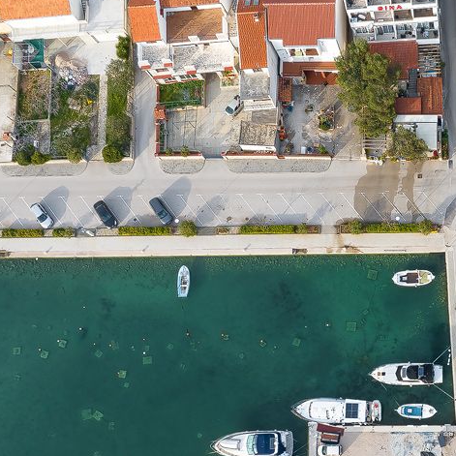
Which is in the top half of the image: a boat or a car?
car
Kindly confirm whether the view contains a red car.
No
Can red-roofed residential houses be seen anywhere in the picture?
Yes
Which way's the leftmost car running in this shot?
on a diagonal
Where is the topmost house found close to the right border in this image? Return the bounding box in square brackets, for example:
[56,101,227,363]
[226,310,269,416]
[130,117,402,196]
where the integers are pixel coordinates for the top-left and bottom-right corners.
[340,0,442,84]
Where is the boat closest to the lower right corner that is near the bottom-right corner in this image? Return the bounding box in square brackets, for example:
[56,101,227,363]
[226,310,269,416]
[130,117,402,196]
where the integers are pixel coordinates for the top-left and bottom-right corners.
[392,398,437,420]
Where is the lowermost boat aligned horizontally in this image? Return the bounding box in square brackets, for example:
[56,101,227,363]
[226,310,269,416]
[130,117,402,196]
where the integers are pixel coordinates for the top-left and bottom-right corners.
[197,429,304,456]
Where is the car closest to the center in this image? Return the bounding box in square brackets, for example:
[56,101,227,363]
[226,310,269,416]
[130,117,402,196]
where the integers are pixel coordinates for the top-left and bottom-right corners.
[146,195,176,227]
